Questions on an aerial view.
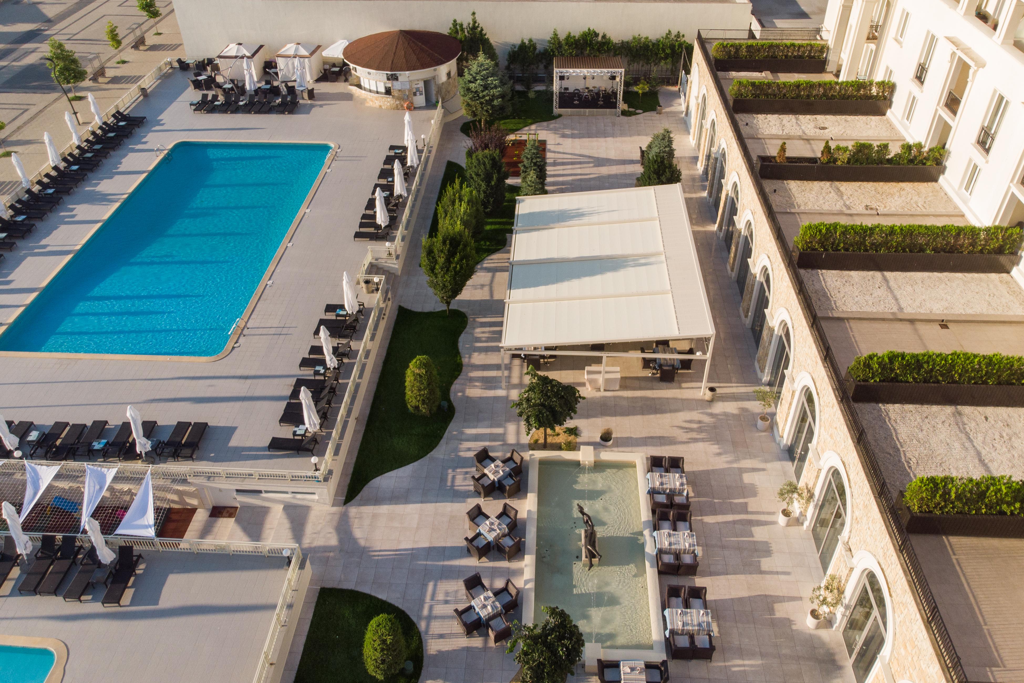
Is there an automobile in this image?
No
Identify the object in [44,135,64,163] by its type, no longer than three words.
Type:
umbrella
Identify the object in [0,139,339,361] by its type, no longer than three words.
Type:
swimming pool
